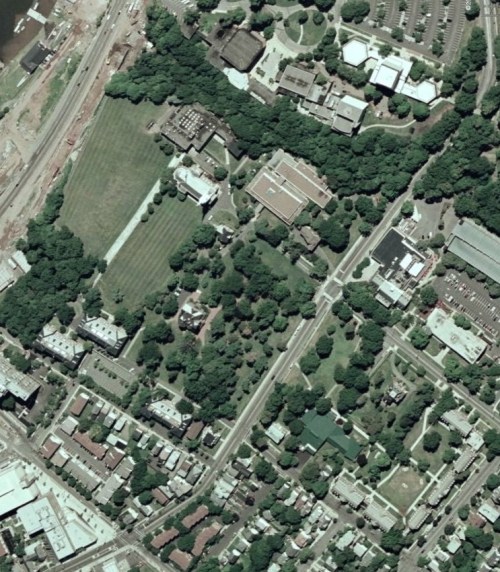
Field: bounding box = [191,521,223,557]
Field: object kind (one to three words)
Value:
building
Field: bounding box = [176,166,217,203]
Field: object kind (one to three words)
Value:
building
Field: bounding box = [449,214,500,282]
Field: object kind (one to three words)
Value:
shed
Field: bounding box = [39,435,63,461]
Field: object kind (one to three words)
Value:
house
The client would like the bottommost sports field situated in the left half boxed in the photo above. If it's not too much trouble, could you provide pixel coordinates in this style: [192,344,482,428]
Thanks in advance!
[98,182,204,315]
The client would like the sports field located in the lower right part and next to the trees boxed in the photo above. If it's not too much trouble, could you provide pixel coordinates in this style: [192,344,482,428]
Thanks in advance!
[384,466,426,512]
